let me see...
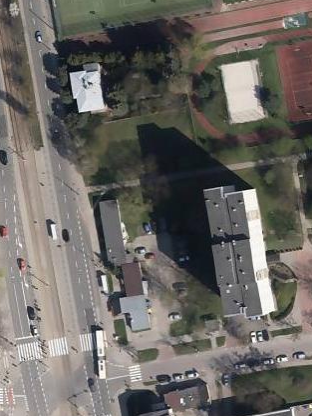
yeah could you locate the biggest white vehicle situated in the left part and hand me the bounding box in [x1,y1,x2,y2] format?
[96,329,109,379]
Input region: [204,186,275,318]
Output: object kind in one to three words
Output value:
building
